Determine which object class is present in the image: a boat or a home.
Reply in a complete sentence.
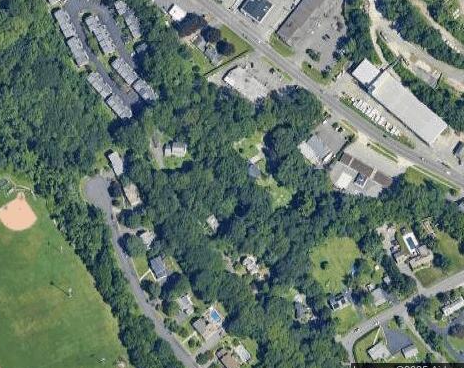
Of the two, only a home appears.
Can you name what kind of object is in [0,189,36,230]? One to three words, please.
baseball field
